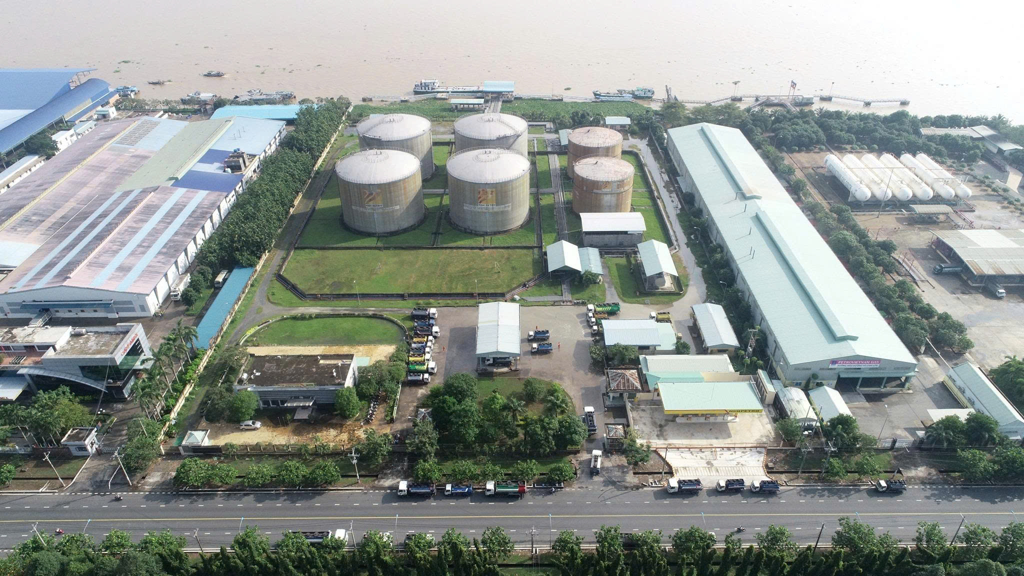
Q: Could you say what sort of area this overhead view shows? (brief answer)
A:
industrial area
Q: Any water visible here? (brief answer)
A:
Yes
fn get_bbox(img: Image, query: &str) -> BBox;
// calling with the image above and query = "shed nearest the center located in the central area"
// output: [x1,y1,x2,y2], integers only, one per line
[546,242,582,283]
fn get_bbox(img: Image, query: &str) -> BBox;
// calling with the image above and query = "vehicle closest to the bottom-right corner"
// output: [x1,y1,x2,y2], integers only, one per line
[875,477,910,492]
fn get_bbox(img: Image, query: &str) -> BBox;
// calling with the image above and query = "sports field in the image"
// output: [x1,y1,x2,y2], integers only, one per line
[285,249,542,295]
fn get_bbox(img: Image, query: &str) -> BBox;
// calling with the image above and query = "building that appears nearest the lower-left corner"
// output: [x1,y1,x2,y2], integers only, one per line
[60,427,98,455]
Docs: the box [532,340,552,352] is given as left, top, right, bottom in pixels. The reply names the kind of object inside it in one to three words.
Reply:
vehicle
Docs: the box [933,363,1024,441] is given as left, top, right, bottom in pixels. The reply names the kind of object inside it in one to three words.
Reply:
building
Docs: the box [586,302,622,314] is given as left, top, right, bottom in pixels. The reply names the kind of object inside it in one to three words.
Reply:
vehicle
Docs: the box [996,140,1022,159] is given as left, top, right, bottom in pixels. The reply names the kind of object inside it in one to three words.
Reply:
barn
